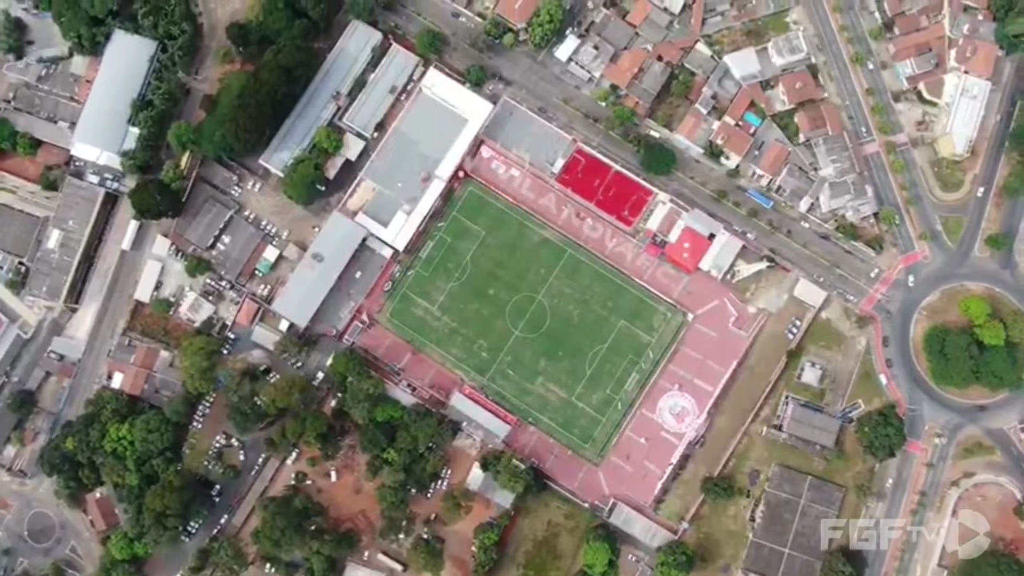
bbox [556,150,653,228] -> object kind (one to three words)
sports court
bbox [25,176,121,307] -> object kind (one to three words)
building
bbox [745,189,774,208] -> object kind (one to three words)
vehicle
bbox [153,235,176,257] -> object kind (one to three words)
house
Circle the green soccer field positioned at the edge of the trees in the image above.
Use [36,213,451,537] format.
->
[377,174,683,462]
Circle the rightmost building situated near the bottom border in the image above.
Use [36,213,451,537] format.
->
[733,460,845,576]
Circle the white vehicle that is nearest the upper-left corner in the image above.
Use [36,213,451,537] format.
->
[120,220,141,250]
